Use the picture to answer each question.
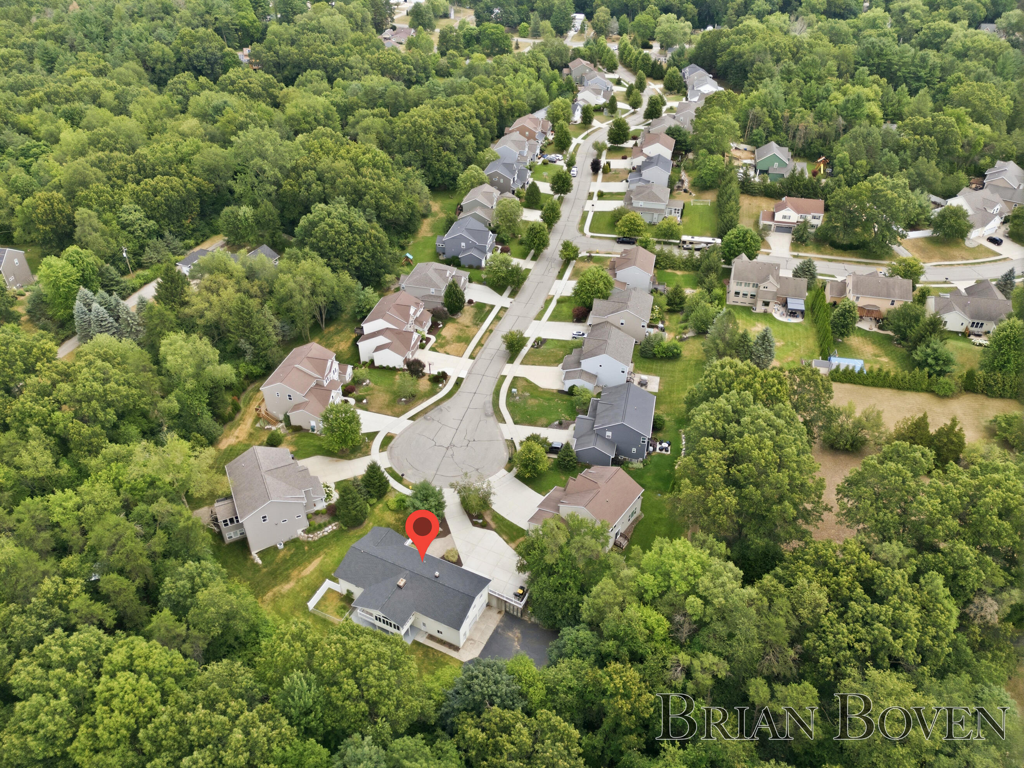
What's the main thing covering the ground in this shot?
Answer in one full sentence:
The largest share of the image is taken up by trees.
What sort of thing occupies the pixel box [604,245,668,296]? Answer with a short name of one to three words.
house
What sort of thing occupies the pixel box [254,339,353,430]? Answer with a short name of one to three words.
house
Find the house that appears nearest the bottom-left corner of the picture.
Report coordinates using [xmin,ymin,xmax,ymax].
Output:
[214,444,327,553]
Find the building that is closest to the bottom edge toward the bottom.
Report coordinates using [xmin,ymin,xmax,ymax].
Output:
[333,528,493,647]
